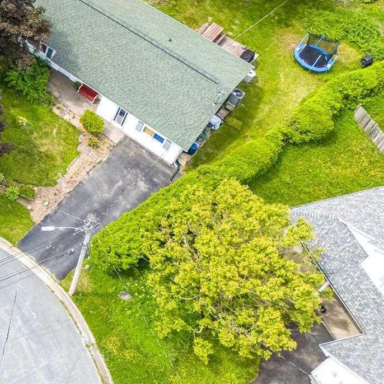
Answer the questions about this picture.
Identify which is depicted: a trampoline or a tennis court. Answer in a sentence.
Visible in the photo is a trampoline.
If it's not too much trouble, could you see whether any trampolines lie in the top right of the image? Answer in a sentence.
Yes, in the top right of the image there is a trampoline.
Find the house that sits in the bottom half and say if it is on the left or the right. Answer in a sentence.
You can find the house that sits in the bottom half on the right side of the picture.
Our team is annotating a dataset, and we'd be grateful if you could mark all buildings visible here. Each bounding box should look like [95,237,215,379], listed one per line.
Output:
[1,0,255,169]
[288,189,384,384]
